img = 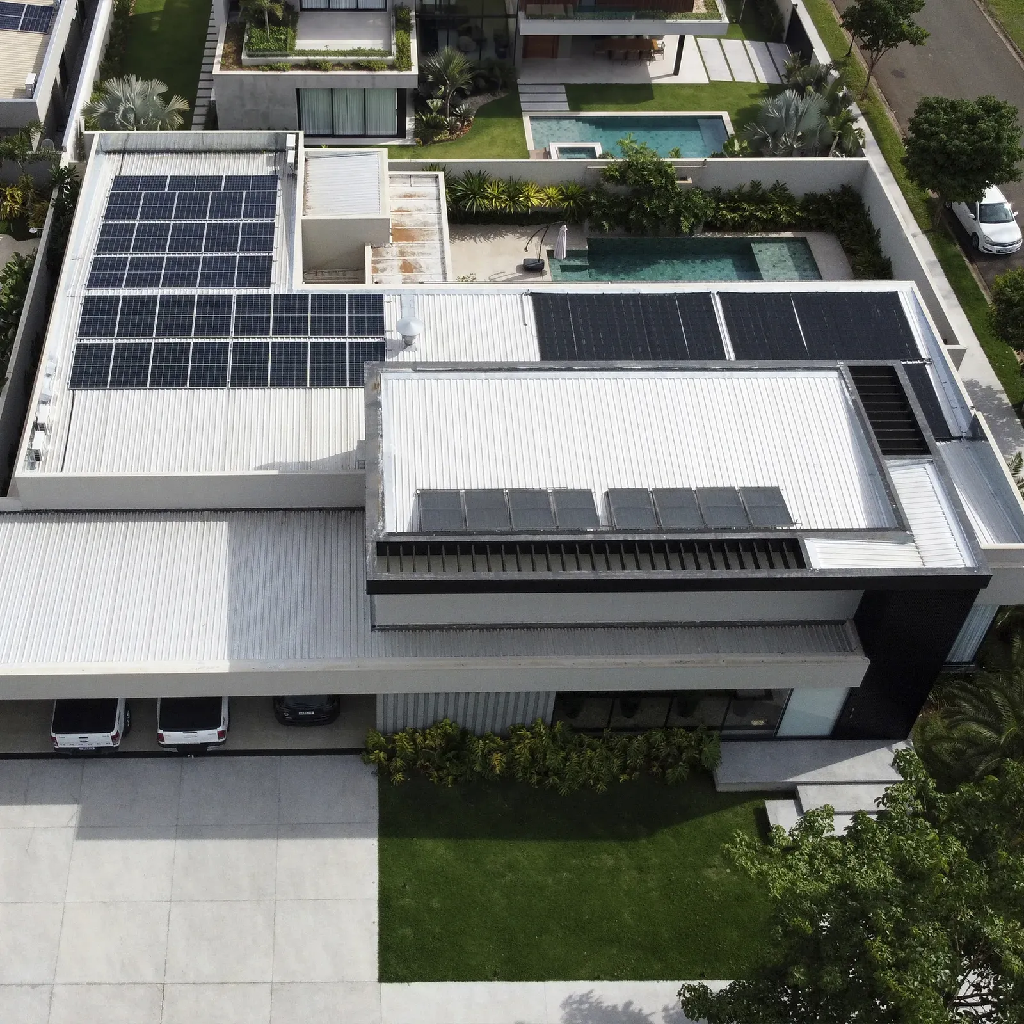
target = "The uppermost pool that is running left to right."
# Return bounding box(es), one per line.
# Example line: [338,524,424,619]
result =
[531,117,736,158]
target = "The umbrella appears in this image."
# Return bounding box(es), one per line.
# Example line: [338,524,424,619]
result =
[523,218,572,269]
